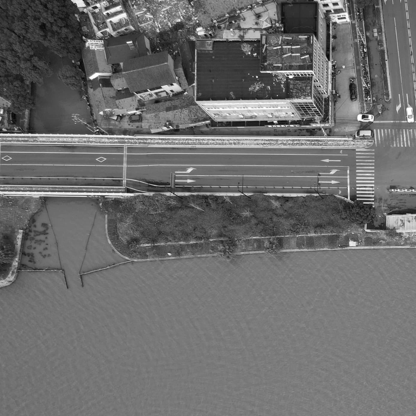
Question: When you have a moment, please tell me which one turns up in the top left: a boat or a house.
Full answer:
You can see a house in the top left.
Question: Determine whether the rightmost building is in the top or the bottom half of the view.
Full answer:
The rightmost building is in the top half of the image.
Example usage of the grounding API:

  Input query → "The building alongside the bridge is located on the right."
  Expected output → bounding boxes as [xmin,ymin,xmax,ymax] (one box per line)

[196,2,330,119]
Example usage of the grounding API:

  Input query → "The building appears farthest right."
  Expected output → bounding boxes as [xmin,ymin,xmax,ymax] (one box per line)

[321,0,351,21]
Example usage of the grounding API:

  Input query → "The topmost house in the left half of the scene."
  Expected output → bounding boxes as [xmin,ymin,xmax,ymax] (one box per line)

[74,0,139,38]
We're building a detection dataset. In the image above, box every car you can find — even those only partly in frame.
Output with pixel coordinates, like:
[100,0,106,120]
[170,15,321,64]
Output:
[356,130,374,139]
[406,106,414,124]
[358,113,375,122]
[349,84,357,101]
[7,111,17,127]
